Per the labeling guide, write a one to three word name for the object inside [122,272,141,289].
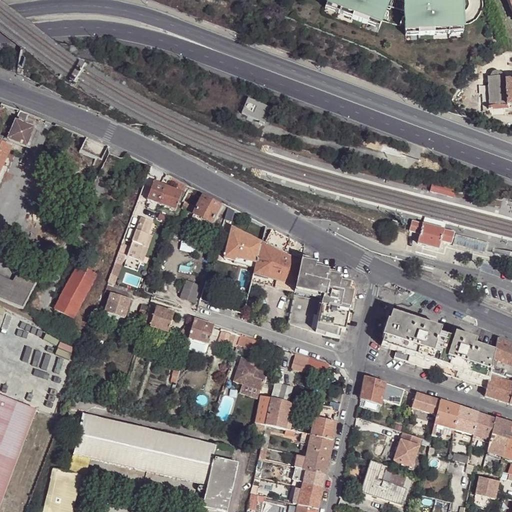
swimming pool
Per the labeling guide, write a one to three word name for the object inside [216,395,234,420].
swimming pool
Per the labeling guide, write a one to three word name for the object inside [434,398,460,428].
house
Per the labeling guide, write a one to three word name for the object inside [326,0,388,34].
building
